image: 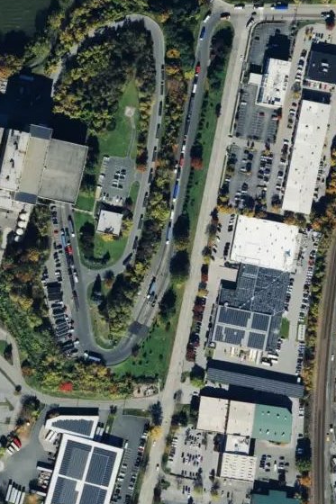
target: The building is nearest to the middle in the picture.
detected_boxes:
[97,211,123,236]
